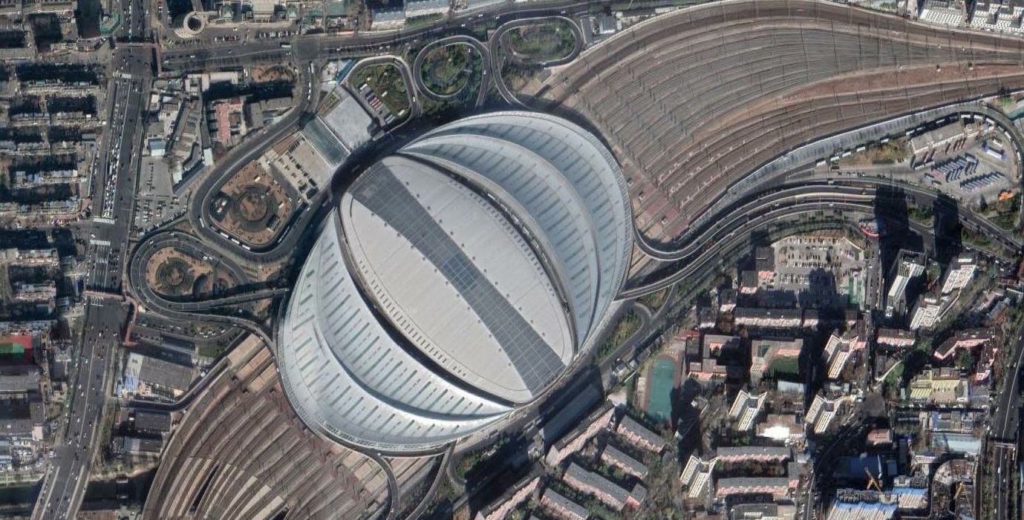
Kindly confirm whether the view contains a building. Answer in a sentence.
Yes, the photo shows a building.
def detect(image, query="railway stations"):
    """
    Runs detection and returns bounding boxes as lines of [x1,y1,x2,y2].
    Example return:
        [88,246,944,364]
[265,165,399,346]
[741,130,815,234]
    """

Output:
[278,110,632,452]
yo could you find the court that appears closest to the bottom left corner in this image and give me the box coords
[0,335,33,362]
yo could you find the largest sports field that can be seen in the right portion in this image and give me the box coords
[639,352,680,432]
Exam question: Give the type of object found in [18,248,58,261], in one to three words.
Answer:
building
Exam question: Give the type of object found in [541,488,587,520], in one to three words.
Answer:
building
